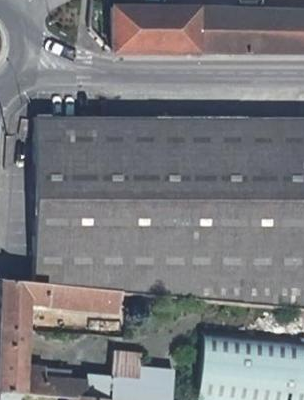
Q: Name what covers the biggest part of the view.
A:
buildings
